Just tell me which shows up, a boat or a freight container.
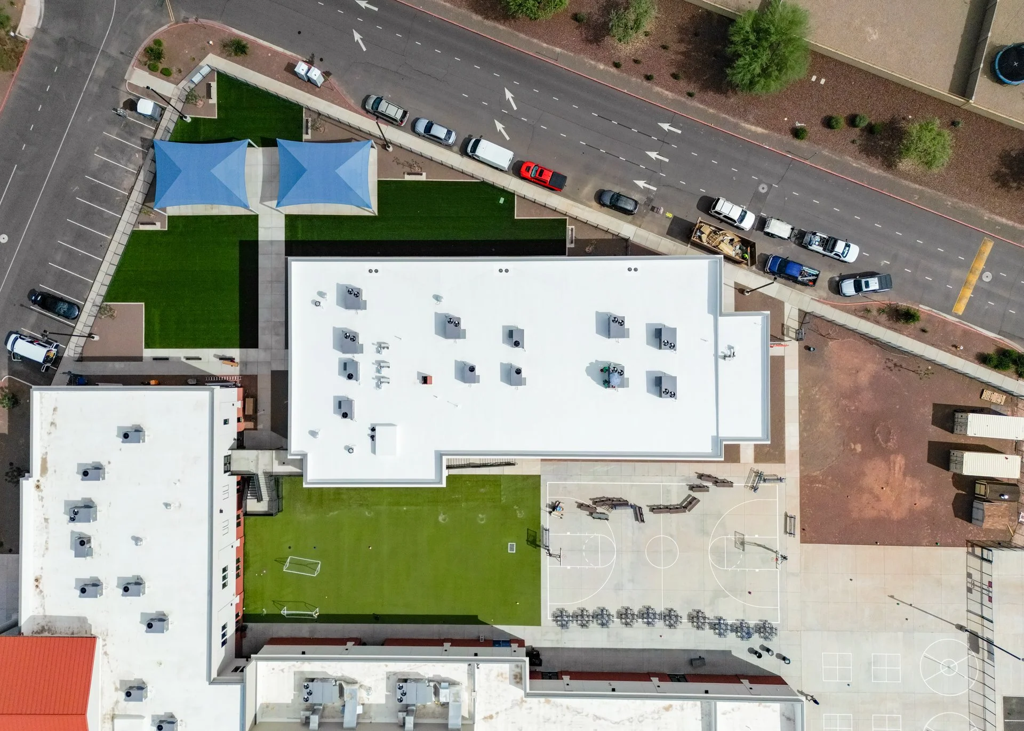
freight container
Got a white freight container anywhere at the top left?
No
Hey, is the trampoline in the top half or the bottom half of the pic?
top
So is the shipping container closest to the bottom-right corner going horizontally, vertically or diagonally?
horizontally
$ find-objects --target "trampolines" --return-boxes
[992,42,1024,87]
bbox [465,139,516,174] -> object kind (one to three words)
van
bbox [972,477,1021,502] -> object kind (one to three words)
shed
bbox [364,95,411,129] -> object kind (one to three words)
car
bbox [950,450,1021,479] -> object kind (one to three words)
shipping container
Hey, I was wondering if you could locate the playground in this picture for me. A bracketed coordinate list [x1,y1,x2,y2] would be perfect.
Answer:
[801,543,1024,731]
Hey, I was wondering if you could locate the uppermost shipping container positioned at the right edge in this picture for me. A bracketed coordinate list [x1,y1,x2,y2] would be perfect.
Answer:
[954,413,1024,440]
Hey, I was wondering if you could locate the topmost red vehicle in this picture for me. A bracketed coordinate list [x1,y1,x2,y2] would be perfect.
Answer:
[518,162,568,194]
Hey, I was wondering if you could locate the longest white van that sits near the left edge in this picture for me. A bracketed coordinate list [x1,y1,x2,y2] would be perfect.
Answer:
[7,336,66,372]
